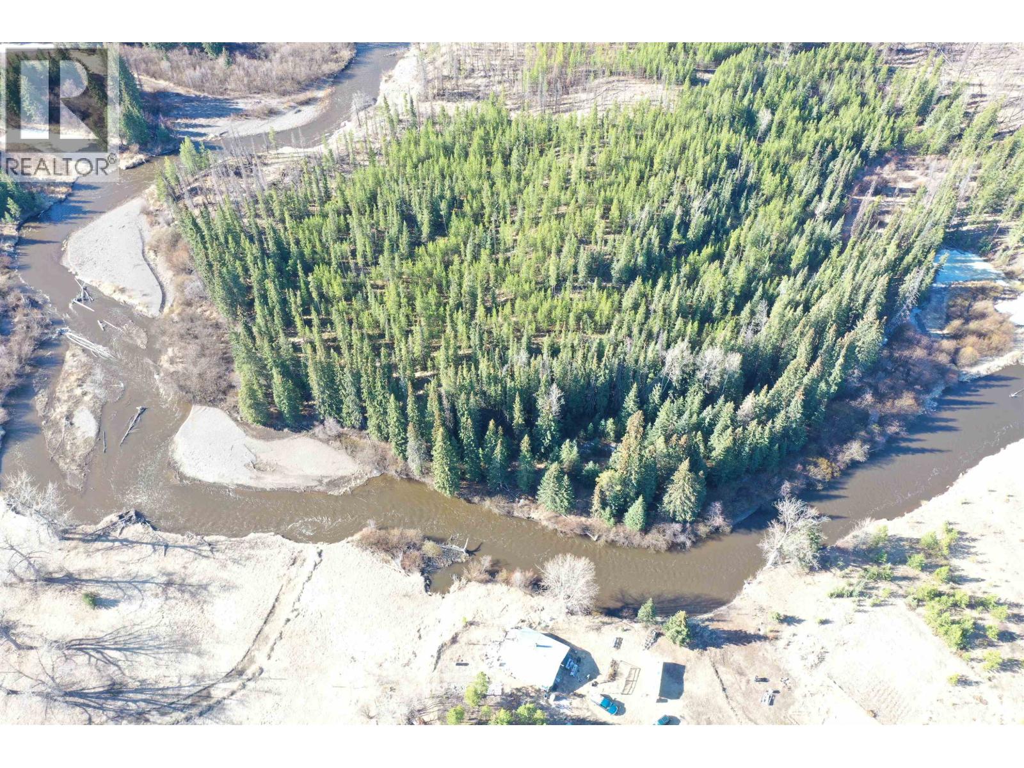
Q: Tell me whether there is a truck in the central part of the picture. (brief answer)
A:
No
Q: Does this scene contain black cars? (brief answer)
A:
No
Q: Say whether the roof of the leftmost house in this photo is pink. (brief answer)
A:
No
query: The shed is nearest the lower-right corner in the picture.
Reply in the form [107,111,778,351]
[637,660,663,704]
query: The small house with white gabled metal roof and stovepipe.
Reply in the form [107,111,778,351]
[503,630,569,691]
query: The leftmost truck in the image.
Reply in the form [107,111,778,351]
[588,691,621,719]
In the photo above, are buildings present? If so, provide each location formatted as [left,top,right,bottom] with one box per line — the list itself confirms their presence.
[637,660,663,704]
[503,630,569,691]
